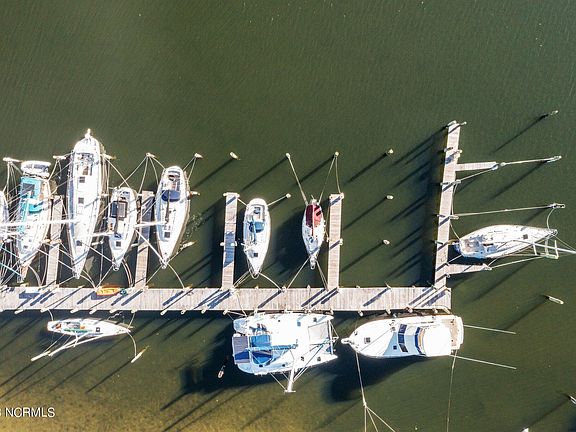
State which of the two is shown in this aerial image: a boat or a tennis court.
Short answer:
boat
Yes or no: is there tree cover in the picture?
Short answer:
No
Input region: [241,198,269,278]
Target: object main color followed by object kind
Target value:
white boat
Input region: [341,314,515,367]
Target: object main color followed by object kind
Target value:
white boat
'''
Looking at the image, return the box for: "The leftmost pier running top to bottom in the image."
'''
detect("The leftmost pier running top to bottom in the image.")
[43,196,66,287]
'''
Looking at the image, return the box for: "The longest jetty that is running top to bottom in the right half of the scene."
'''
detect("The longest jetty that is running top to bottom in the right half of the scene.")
[433,122,467,287]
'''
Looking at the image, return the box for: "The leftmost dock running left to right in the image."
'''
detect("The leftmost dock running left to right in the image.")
[0,284,454,314]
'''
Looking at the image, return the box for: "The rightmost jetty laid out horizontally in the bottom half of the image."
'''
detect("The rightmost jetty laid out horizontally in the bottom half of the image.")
[448,261,496,273]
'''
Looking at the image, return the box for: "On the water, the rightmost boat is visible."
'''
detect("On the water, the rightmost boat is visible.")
[454,225,576,259]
